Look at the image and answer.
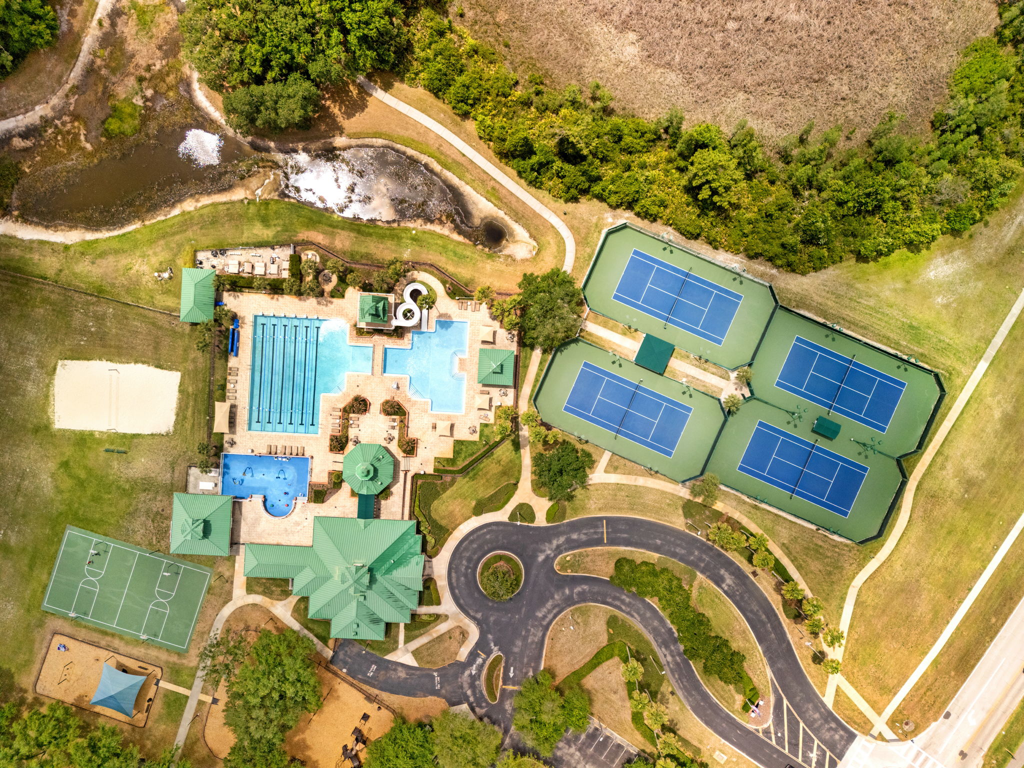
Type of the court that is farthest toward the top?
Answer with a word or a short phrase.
tennis court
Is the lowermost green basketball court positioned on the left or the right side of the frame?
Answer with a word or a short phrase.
left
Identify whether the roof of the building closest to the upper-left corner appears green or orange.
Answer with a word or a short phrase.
green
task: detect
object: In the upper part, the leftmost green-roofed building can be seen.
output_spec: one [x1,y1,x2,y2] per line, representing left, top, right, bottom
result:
[180,268,219,323]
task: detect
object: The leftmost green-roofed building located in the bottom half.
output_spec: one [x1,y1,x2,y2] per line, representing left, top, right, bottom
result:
[170,493,235,556]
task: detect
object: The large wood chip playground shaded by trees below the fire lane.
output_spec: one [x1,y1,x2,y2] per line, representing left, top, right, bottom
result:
[203,635,393,768]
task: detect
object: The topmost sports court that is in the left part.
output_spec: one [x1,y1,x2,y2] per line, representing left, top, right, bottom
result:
[53,360,181,434]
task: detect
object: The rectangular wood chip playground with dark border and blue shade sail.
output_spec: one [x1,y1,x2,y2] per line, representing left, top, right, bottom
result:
[34,632,163,728]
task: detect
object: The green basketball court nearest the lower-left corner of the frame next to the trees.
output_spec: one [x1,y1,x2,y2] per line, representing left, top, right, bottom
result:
[42,525,213,653]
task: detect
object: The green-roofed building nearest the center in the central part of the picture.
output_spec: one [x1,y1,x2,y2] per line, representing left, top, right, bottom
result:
[477,348,515,386]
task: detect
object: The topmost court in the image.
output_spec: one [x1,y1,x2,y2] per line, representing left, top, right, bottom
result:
[586,226,774,368]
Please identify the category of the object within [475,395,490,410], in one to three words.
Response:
umbrella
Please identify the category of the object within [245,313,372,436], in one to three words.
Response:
swimming pool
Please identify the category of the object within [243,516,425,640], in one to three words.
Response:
building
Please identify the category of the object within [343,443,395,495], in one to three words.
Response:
building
